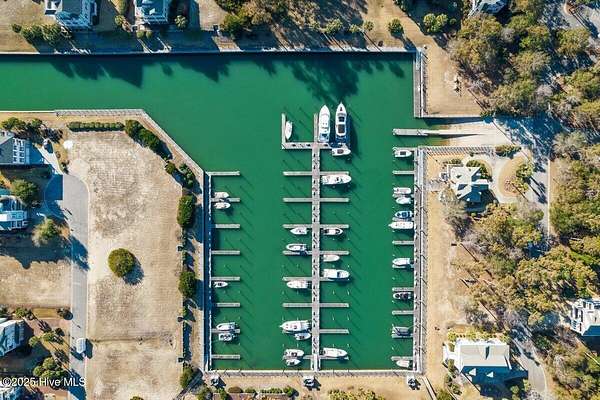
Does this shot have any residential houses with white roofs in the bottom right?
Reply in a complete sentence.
Yes, looking in the bottom right, one can make out a residential house with a white roof.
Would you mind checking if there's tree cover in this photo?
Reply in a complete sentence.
Yes, there's tree cover in this view.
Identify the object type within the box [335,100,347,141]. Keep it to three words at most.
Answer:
boat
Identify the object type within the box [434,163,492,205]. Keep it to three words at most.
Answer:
house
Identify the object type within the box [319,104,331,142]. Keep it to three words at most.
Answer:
boat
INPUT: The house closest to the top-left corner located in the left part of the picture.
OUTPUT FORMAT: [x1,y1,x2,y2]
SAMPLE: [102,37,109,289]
[40,0,101,30]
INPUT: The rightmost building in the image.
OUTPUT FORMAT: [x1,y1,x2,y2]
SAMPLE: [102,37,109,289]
[568,299,600,336]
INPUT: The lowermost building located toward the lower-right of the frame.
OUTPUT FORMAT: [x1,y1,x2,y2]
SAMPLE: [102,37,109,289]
[434,333,515,380]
